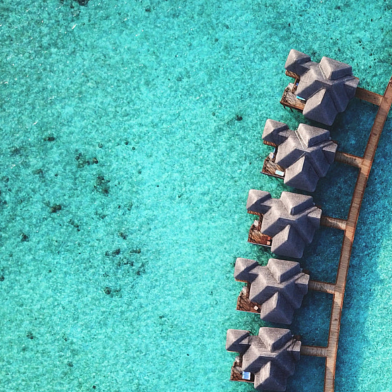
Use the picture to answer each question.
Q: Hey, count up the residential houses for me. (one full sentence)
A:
The photo contains 5 residential houses.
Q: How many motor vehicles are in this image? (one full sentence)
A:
There are no motor vehicles in the image.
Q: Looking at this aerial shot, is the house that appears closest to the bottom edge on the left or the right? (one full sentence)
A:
It is on the right.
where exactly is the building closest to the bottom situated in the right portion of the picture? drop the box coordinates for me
[228,327,306,389]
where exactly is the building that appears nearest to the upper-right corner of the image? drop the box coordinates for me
[280,50,364,124]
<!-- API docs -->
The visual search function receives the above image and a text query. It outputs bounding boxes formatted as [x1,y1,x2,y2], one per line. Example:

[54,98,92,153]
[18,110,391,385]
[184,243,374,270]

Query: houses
[228,327,306,389]
[260,121,341,189]
[243,190,323,255]
[236,257,314,321]
[280,50,364,124]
